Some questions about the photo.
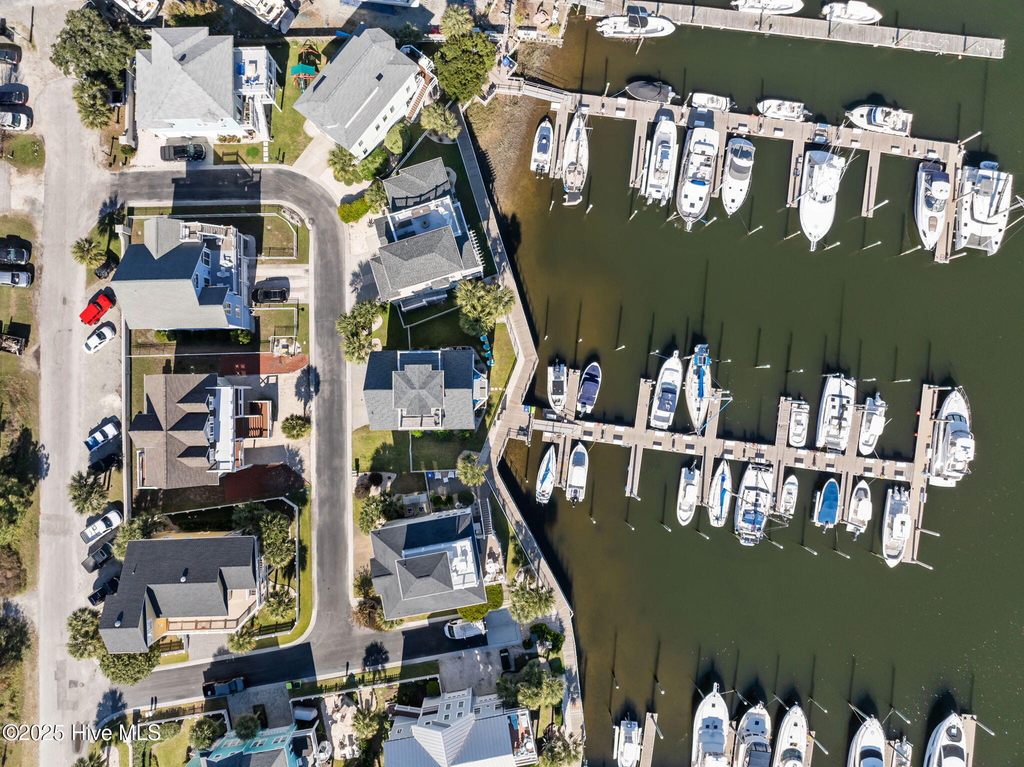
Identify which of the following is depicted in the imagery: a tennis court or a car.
car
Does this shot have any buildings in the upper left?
Yes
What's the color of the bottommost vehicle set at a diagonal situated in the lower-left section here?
black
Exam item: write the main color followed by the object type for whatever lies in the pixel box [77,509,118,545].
white vehicle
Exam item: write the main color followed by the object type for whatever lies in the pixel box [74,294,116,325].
red car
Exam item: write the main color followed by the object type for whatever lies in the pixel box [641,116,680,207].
white boat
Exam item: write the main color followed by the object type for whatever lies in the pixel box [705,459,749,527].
white boat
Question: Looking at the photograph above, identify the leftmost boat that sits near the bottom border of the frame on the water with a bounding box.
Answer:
[612,706,643,767]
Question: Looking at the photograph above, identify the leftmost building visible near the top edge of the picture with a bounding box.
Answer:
[135,26,280,144]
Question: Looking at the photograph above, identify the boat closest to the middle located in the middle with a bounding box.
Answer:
[548,355,569,411]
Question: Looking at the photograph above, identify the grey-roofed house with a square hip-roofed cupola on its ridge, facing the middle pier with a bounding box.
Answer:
[363,350,489,430]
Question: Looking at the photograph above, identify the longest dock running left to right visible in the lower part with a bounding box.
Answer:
[542,370,939,564]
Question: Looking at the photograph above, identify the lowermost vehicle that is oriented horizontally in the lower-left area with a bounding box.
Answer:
[202,673,247,698]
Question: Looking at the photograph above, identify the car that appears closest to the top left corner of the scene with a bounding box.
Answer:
[0,47,23,68]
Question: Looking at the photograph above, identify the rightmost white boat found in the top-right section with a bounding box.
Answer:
[951,158,1024,255]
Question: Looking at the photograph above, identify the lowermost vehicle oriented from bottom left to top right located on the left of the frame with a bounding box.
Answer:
[84,576,116,608]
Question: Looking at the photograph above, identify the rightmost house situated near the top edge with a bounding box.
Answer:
[292,22,441,163]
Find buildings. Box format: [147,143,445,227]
[383,687,538,767]
[369,499,507,621]
[369,157,486,312]
[104,218,250,330]
[100,533,279,654]
[197,709,336,767]
[135,26,280,144]
[128,374,276,490]
[363,350,489,430]
[292,22,441,163]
